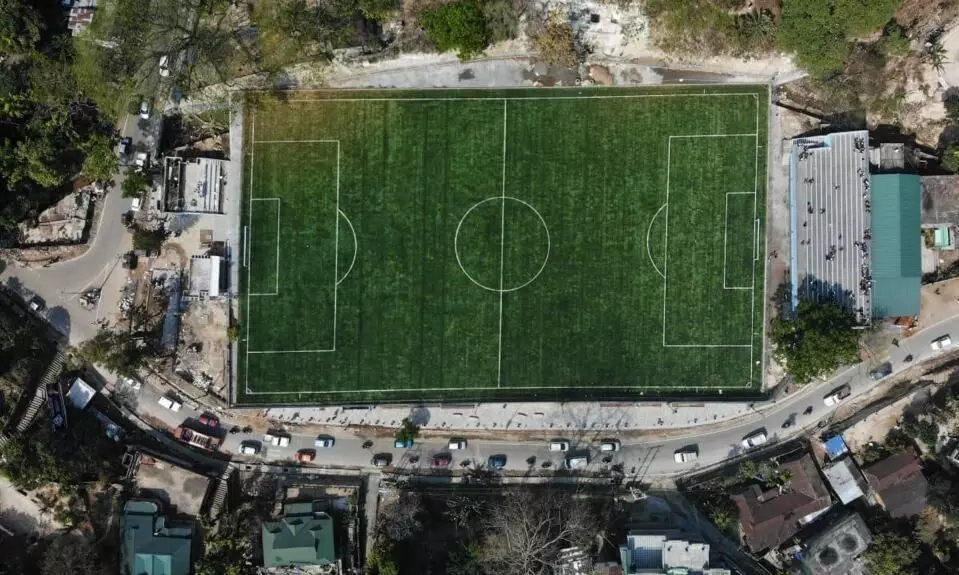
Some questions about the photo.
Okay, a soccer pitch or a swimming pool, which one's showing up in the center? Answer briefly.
soccer pitch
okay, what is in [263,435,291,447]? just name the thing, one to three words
vehicle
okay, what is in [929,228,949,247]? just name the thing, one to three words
shed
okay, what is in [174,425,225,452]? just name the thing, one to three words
truck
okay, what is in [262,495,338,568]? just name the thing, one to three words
building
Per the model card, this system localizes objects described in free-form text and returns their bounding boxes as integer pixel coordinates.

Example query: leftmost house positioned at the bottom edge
[125,499,200,575]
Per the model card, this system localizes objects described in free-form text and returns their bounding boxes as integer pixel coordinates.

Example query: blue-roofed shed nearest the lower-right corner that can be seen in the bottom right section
[820,435,848,458]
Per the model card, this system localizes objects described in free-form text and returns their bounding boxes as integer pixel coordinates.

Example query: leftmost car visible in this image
[28,297,44,311]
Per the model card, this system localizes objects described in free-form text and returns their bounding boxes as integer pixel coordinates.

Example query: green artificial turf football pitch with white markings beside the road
[237,85,769,405]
